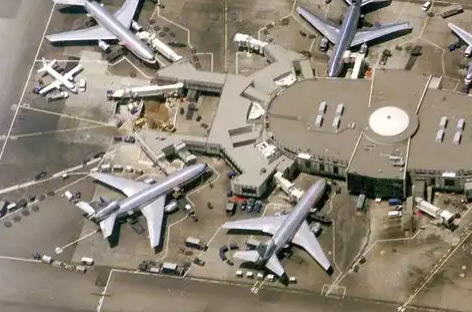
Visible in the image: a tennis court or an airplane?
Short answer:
airplane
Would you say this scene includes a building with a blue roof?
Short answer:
No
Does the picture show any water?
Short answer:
No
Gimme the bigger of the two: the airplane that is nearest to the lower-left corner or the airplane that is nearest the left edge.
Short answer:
the airplane that is nearest to the lower-left corner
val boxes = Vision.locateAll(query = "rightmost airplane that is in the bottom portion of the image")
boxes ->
[221,184,329,276]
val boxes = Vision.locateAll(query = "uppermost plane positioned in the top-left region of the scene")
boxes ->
[40,0,155,66]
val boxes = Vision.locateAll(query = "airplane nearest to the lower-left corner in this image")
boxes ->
[74,169,206,251]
